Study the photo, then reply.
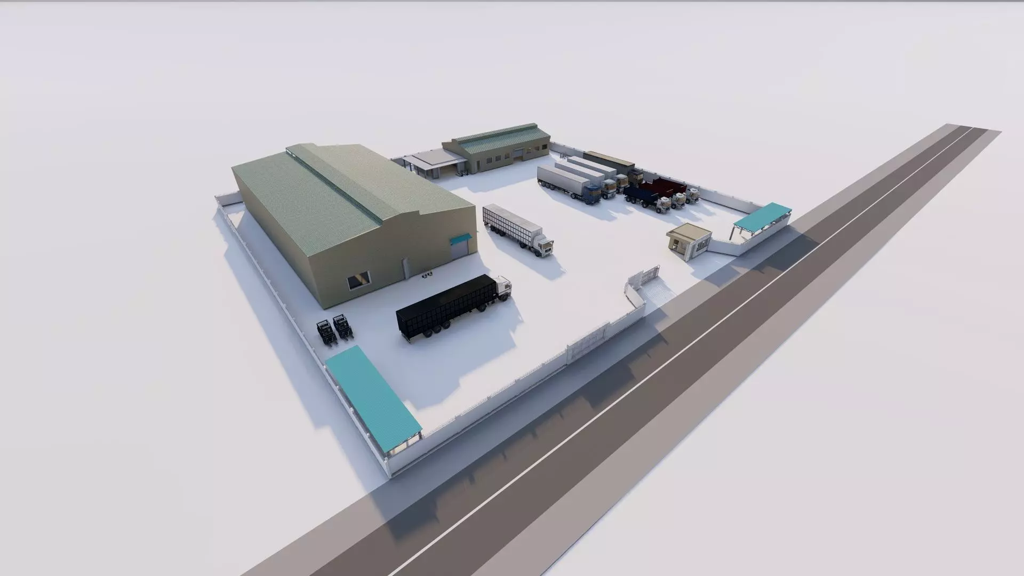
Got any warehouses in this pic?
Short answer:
Yes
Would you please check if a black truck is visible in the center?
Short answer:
Yes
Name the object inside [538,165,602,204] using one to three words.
truck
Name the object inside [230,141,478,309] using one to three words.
warehouse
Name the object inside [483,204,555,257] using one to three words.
truck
